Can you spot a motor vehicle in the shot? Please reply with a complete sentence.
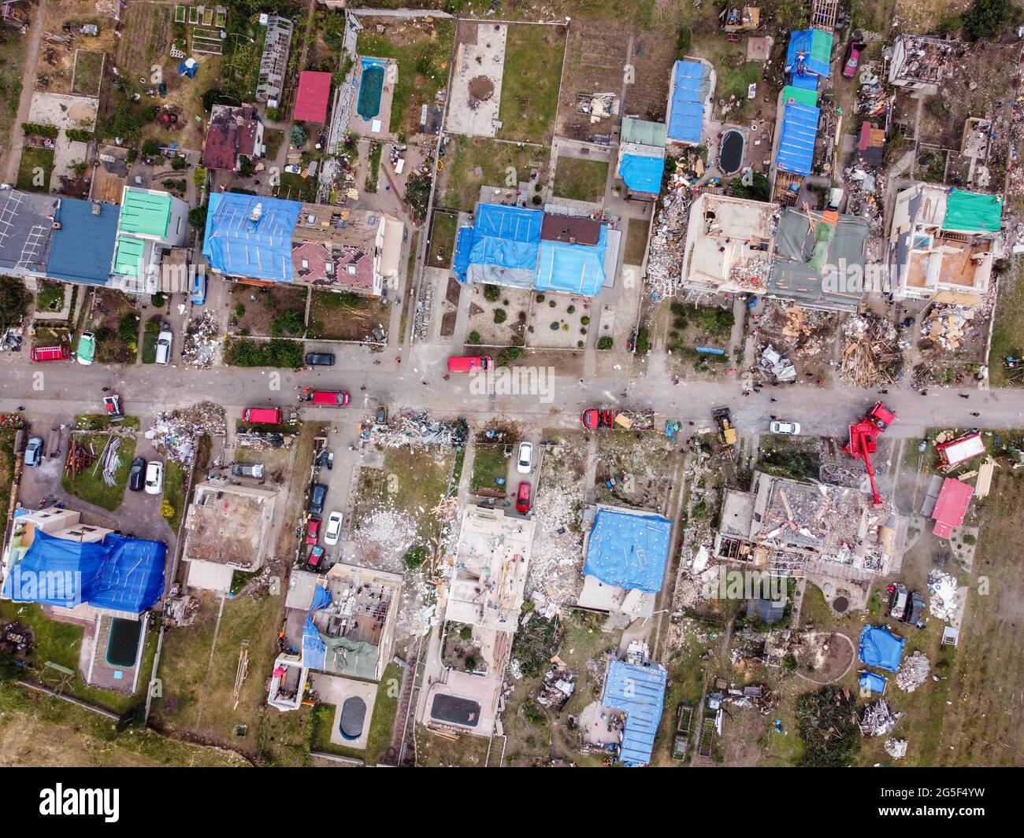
Yes, I can see a motor vehicle in this picture.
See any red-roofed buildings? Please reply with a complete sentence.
Yes, this view includes a red-roofed building.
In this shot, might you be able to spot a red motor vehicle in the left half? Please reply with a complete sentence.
Yes, a red motor vehicle shows up in the left half.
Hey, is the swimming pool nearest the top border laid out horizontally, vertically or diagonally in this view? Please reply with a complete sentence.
In this picture, the swimming pool nearest the top border lies vertically.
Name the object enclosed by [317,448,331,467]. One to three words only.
work vehicle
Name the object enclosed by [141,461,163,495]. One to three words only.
car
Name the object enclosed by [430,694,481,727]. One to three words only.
swimming pool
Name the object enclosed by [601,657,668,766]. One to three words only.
shed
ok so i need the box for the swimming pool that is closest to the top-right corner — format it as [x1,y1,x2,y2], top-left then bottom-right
[719,126,747,174]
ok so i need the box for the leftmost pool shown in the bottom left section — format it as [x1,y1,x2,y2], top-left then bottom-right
[104,617,142,669]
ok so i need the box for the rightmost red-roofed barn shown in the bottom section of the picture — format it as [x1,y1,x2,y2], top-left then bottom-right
[913,475,973,538]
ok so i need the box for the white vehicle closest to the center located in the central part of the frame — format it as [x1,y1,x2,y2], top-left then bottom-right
[516,441,534,475]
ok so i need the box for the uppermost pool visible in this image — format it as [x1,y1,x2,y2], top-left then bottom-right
[357,59,388,121]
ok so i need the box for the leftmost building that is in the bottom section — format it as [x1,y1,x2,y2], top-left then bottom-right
[0,504,179,621]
